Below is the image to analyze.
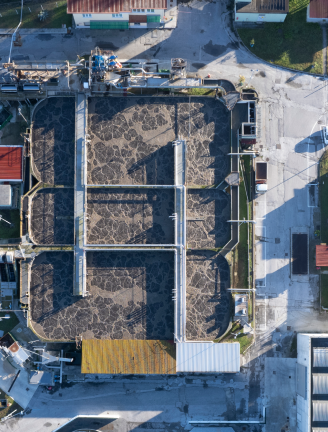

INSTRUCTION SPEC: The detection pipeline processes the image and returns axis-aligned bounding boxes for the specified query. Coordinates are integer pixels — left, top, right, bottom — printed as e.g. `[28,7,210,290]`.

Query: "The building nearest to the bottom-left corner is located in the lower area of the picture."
[29,370,55,384]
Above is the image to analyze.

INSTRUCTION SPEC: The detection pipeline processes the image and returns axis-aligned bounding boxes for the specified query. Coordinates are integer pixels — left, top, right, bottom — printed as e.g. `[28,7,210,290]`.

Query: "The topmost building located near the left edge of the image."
[0,145,26,183]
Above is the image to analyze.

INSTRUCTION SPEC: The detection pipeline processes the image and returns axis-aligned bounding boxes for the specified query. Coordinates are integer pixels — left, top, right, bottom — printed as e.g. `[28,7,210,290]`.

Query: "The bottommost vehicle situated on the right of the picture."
[255,158,268,191]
